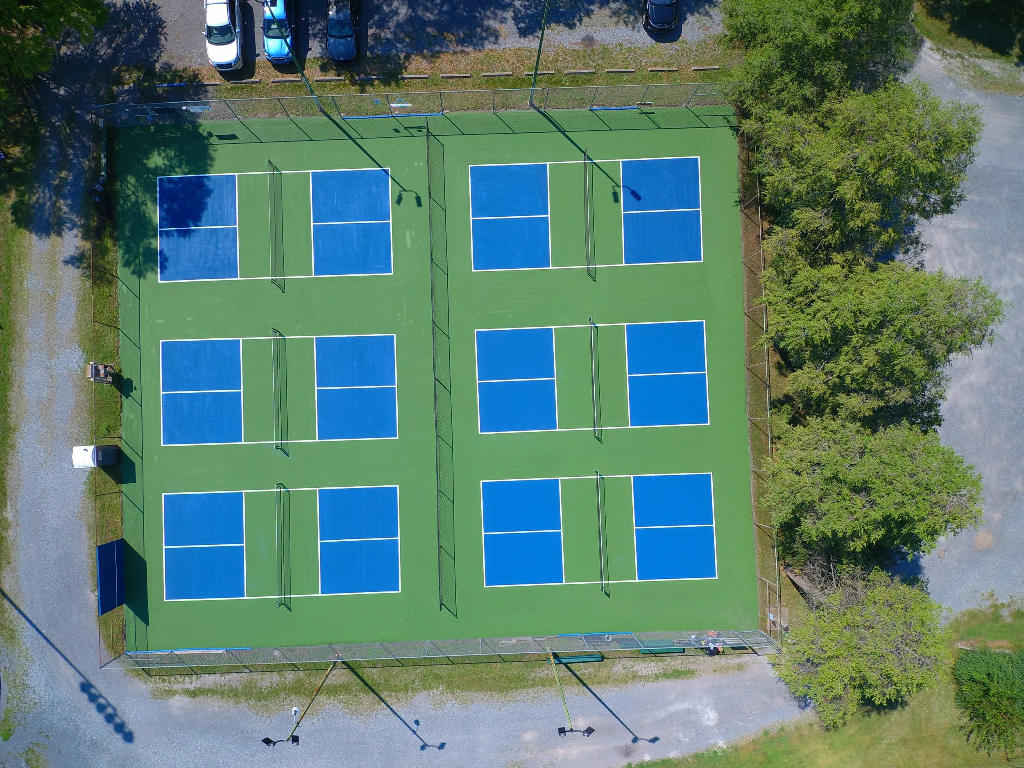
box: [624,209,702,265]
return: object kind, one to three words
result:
sports court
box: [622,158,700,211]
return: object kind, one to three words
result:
sports court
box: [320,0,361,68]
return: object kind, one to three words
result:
car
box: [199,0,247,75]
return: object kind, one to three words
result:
car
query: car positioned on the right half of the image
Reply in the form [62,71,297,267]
[638,0,675,37]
